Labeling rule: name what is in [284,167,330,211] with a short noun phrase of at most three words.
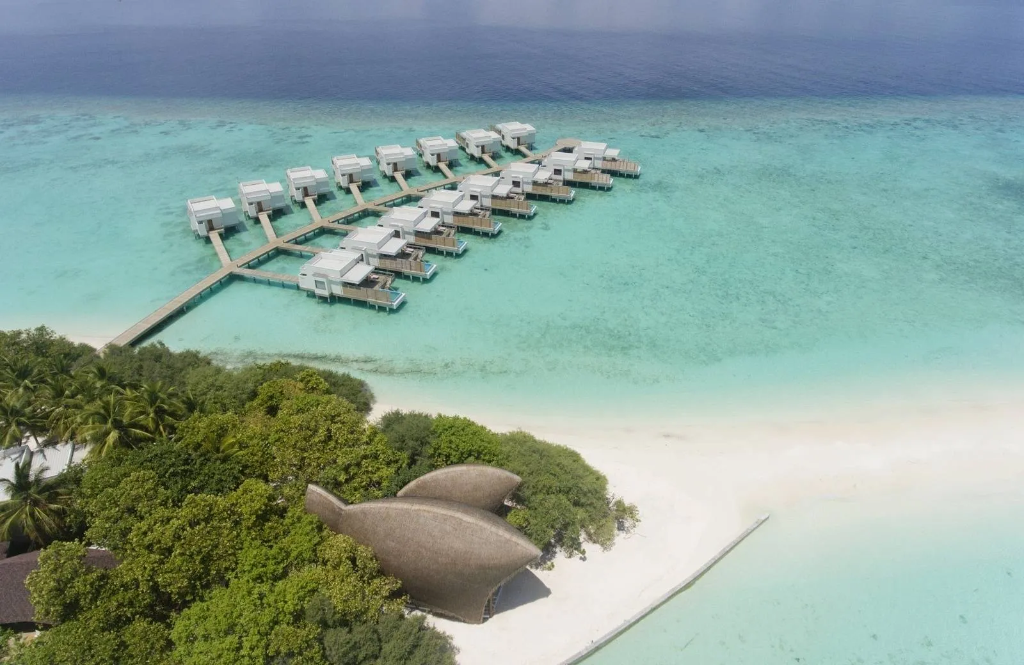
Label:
house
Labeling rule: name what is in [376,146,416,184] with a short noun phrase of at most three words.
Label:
house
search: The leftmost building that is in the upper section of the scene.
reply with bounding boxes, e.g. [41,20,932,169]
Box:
[185,197,240,246]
